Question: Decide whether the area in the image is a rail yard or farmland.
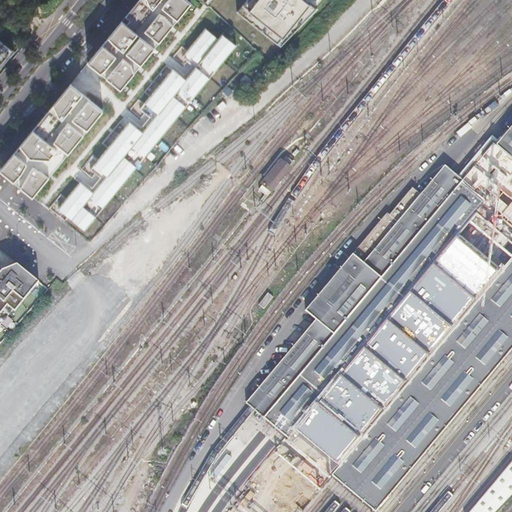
rail yard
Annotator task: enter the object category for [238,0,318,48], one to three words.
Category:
building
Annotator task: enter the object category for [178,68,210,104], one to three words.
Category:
building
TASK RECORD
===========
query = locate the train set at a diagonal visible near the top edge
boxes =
[292,0,452,196]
